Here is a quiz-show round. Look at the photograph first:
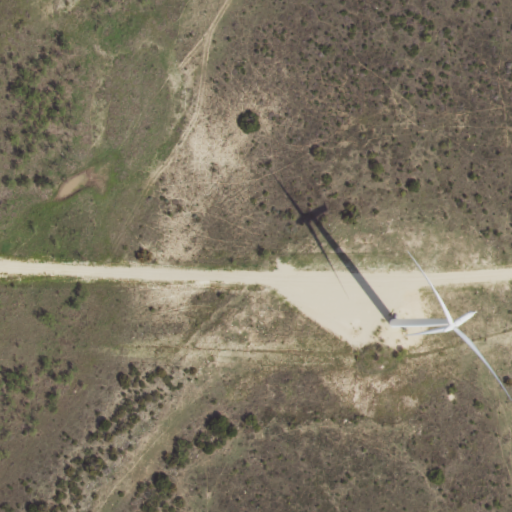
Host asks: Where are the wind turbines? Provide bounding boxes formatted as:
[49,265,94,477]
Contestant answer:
[388,256,512,400]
